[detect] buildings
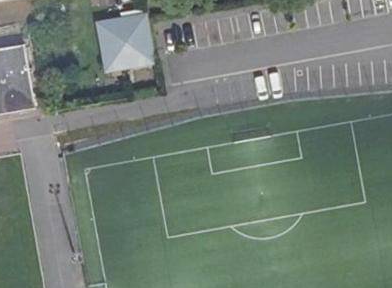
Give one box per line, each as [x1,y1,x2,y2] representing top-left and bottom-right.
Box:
[96,10,156,72]
[0,45,36,114]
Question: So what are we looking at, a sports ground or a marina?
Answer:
sports ground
